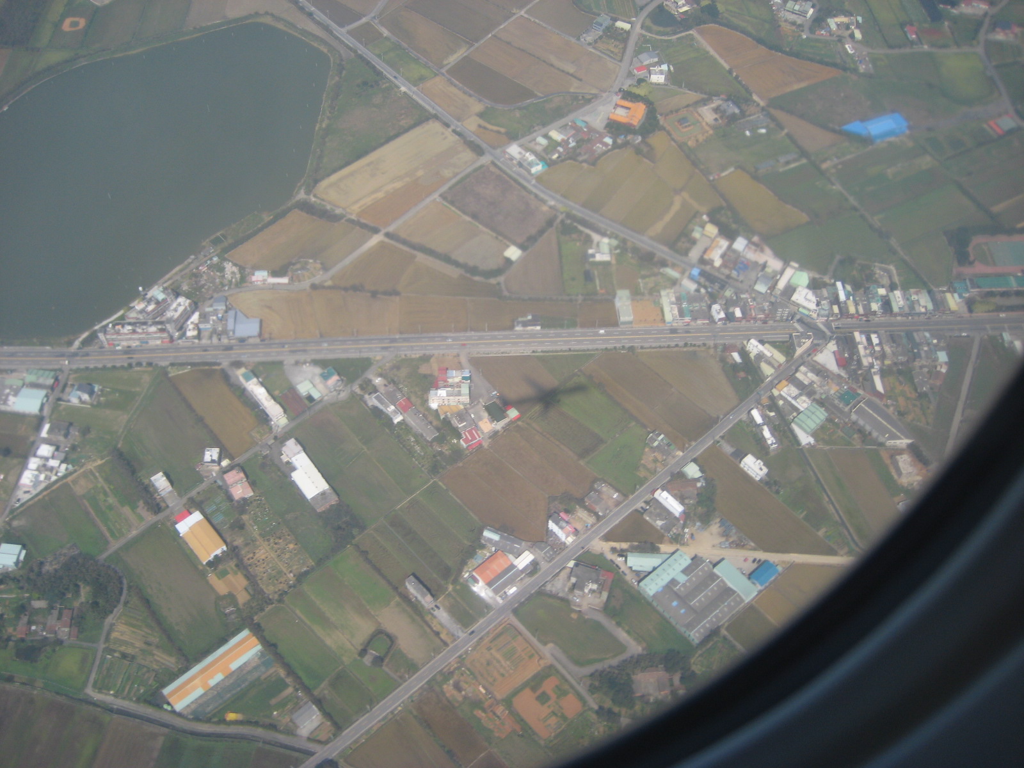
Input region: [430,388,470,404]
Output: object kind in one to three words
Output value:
house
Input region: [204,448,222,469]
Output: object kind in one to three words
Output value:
house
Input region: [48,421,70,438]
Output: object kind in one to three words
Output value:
shed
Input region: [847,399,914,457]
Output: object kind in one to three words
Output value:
building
